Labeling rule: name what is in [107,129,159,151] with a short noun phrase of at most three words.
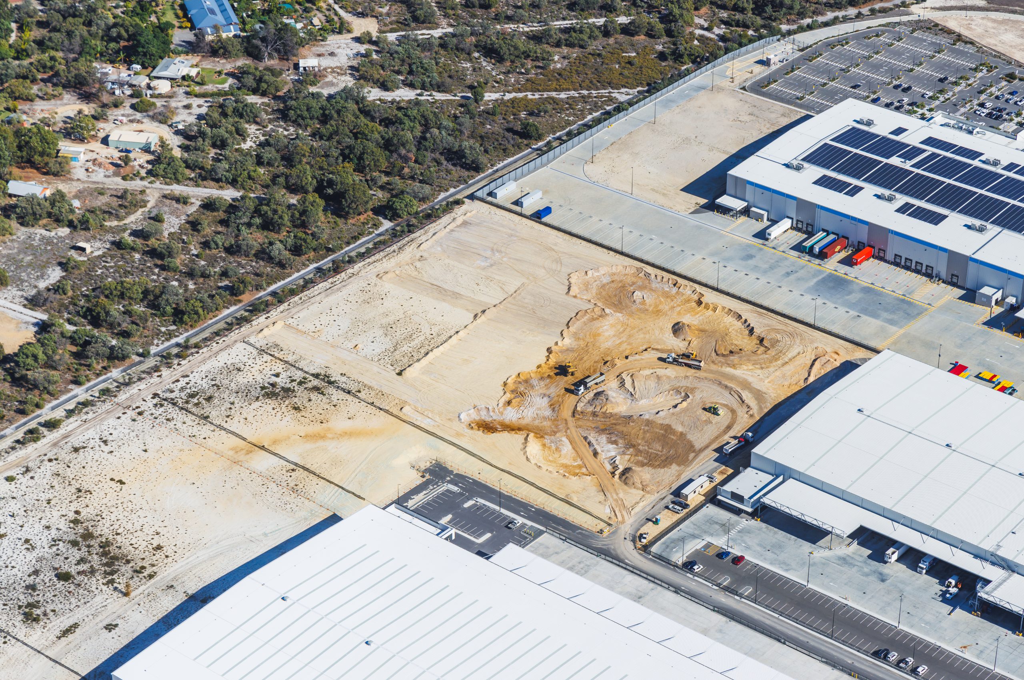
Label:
shed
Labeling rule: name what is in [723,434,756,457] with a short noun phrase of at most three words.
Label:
truck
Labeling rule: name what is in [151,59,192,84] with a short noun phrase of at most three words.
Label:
house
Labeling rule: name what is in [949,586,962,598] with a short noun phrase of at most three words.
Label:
vehicle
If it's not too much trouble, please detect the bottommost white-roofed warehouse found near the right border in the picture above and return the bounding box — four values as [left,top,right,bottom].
[750,349,1024,574]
